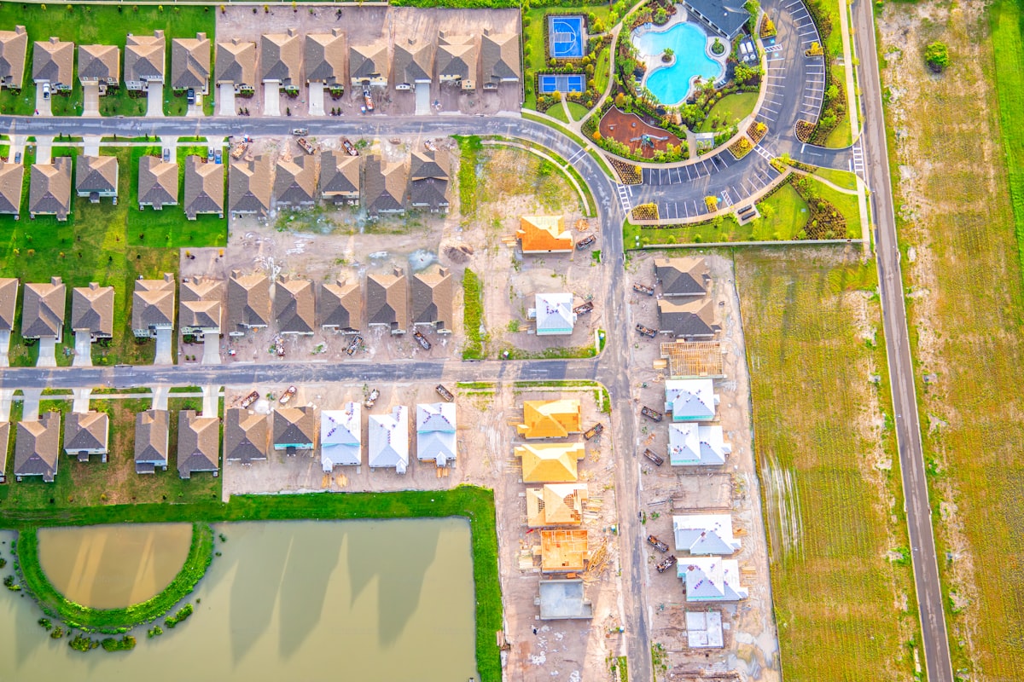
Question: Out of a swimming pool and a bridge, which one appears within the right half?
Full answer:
What appears within the right half is a swimming pool.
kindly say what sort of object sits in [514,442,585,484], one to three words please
house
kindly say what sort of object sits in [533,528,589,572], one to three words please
house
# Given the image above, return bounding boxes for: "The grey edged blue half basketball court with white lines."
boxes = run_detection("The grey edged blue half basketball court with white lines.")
[548,15,585,58]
